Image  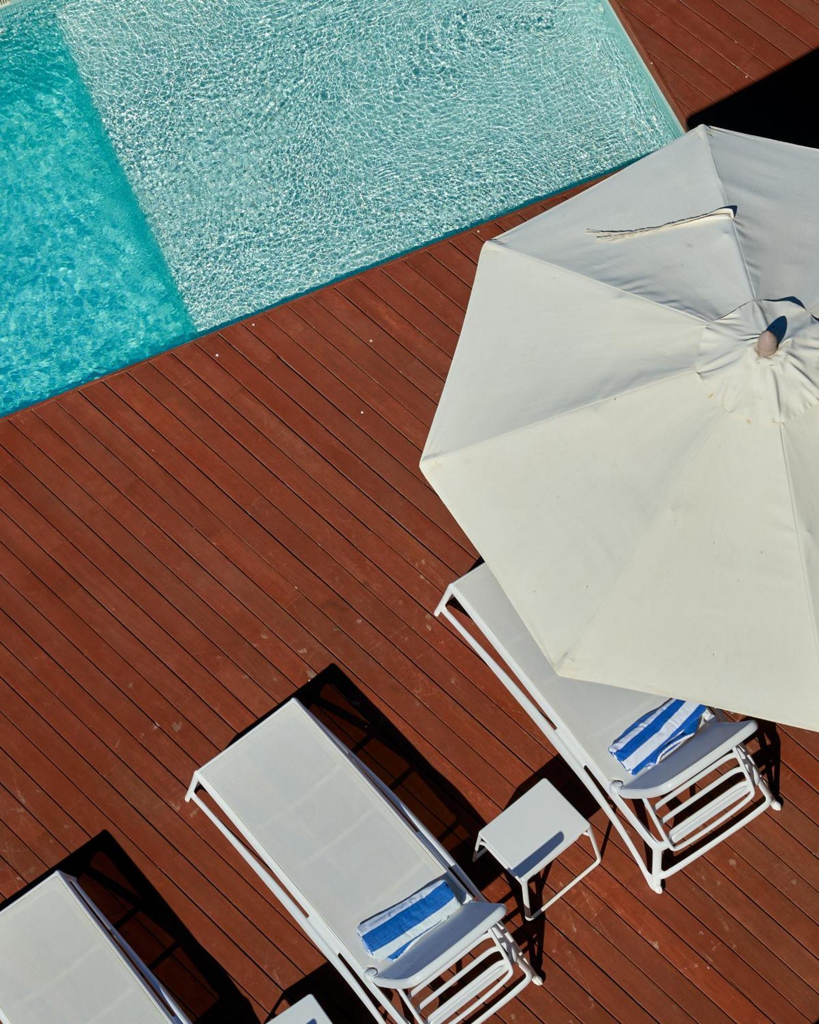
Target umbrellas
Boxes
[419,125,819,730]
